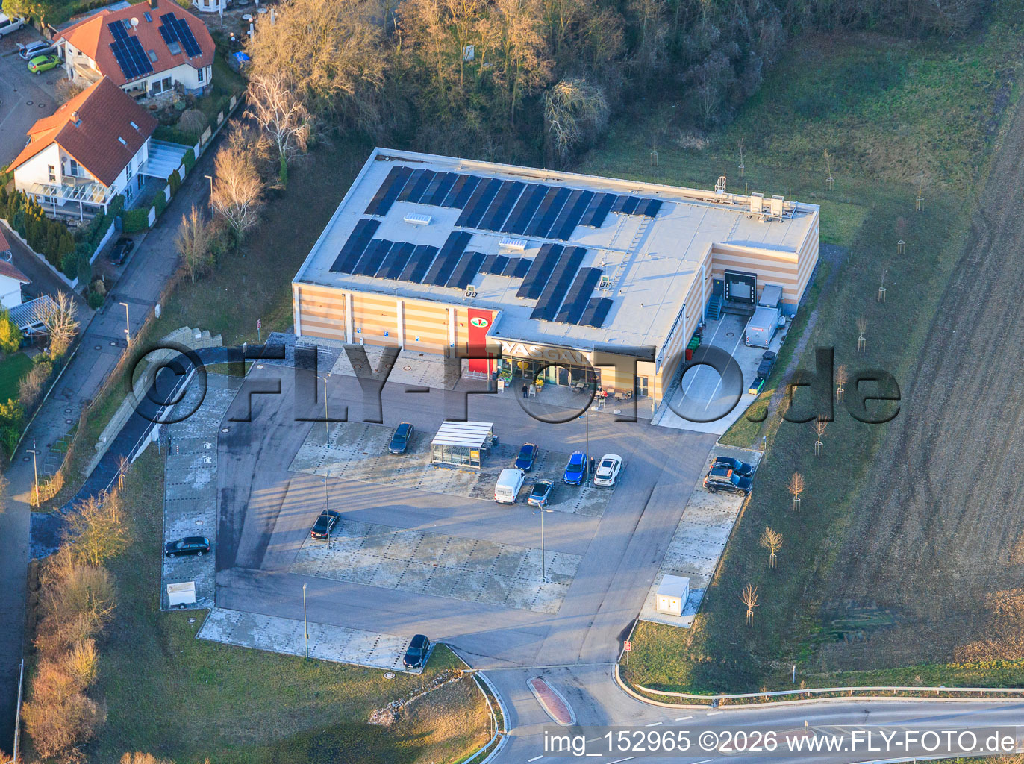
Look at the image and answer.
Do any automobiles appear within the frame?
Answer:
Yes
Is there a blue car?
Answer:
Yes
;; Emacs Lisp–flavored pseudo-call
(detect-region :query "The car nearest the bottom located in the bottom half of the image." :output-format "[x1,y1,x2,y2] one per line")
[402,631,433,670]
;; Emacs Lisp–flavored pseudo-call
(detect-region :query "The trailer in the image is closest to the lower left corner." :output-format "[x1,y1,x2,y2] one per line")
[166,578,209,607]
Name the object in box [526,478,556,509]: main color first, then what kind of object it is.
blue car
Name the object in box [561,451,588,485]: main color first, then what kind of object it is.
blue car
